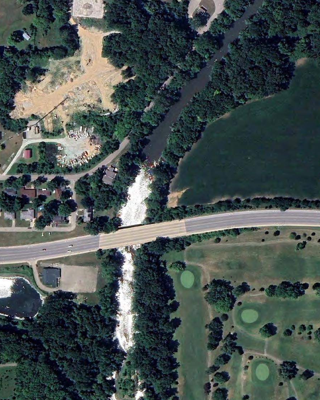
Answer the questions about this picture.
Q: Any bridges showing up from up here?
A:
Yes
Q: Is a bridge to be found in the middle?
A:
Yes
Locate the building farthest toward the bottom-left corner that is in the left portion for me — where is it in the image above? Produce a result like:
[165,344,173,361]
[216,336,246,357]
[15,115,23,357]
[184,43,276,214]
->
[42,267,61,287]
